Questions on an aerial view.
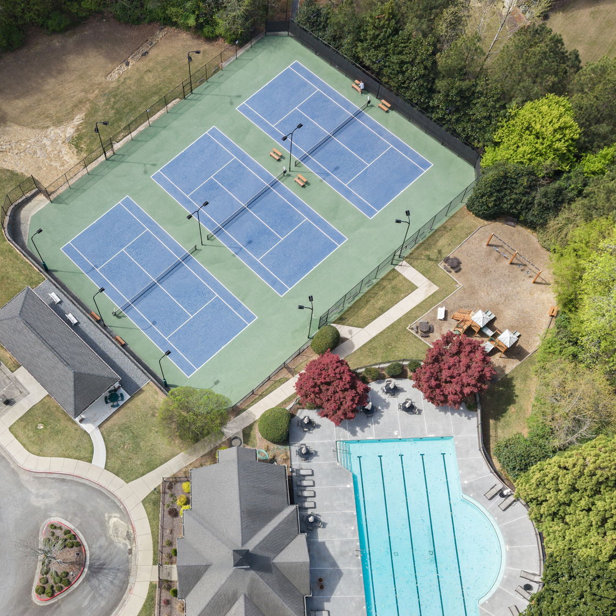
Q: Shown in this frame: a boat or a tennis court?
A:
tennis court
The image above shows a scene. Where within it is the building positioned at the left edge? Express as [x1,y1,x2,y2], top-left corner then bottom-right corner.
[0,288,123,425]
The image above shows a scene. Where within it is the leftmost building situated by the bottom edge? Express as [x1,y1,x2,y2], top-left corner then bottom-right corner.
[175,445,312,616]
